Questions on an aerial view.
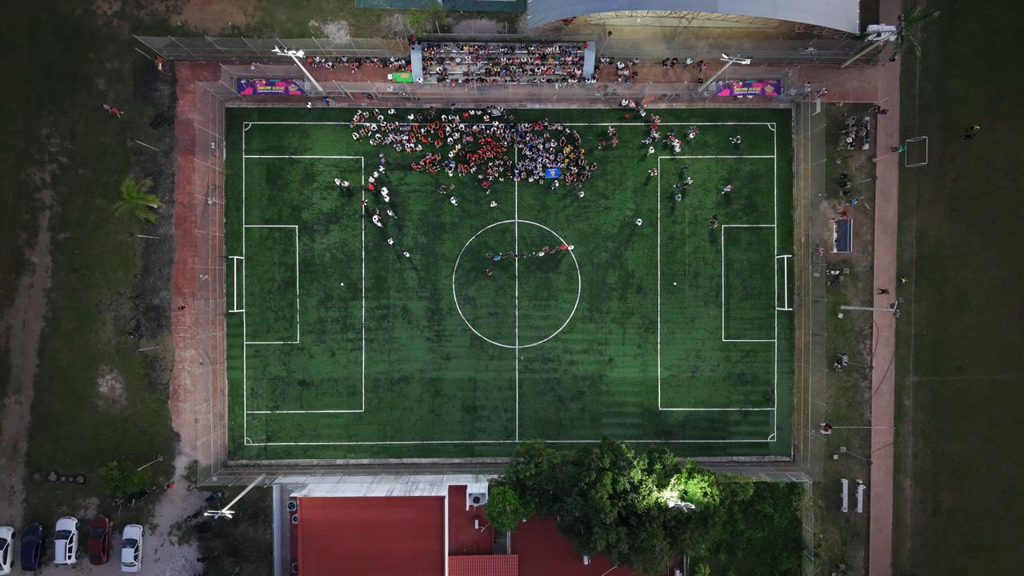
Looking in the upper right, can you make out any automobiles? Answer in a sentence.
No, I see no automobile in the upper right.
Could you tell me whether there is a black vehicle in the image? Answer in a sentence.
Yes, you can see a black vehicle in this photo.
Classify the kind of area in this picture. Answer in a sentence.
The picture captures a sports ground.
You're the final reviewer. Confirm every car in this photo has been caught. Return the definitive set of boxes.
[0,528,14,576]
[16,525,44,574]
[85,517,112,567]
[52,517,81,567]
[119,526,144,574]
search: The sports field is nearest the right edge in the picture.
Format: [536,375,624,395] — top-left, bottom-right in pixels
[892,0,1024,576]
